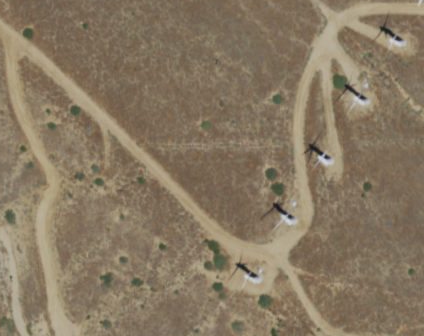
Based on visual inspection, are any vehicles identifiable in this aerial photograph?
No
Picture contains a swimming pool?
No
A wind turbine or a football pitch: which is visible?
wind turbine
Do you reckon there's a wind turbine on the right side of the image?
Yes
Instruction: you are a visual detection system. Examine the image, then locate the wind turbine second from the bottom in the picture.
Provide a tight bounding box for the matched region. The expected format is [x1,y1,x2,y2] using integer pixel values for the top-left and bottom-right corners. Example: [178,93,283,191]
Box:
[270,208,300,234]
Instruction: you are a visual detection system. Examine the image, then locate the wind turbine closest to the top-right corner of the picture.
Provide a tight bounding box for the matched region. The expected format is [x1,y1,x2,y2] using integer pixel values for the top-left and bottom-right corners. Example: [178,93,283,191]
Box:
[382,30,408,58]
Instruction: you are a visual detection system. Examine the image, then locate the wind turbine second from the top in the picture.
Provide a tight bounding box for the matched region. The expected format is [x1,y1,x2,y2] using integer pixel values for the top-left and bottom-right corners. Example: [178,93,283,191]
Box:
[345,88,373,116]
